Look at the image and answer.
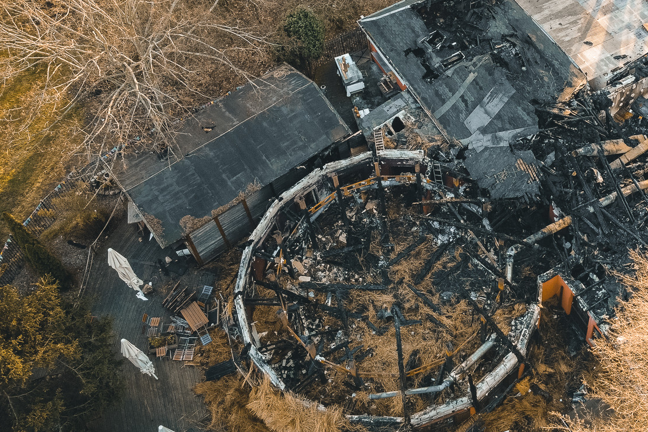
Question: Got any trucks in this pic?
No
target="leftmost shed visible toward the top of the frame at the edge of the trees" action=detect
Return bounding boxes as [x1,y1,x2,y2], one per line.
[98,60,353,273]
